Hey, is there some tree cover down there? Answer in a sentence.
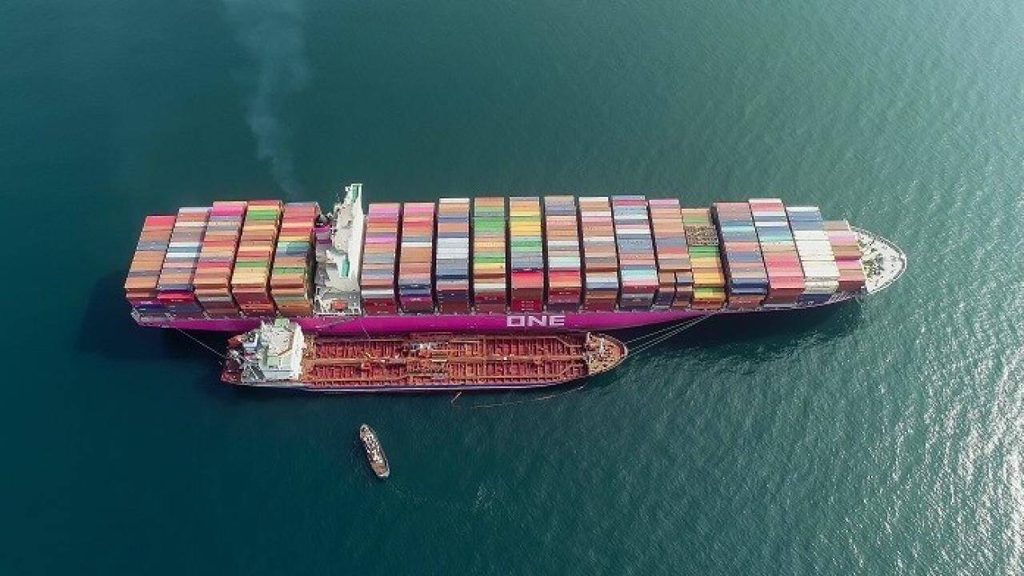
No, the picture contains no tree cover.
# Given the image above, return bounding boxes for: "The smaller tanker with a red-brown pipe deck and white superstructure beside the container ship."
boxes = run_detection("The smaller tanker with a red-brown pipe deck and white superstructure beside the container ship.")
[220,322,630,398]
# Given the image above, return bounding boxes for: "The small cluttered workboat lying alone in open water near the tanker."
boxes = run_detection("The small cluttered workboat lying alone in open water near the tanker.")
[357,421,393,478]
